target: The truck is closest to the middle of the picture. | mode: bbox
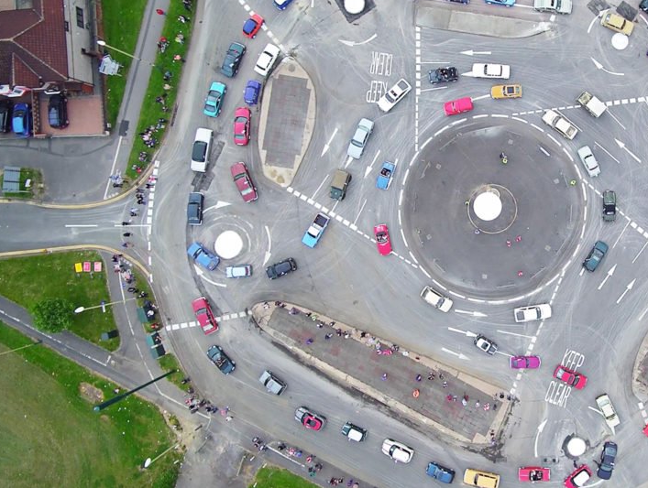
[303,210,332,249]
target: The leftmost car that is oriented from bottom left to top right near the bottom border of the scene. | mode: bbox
[562,461,594,488]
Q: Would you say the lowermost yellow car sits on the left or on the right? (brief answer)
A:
right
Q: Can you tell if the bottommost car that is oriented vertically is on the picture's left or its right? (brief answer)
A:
right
